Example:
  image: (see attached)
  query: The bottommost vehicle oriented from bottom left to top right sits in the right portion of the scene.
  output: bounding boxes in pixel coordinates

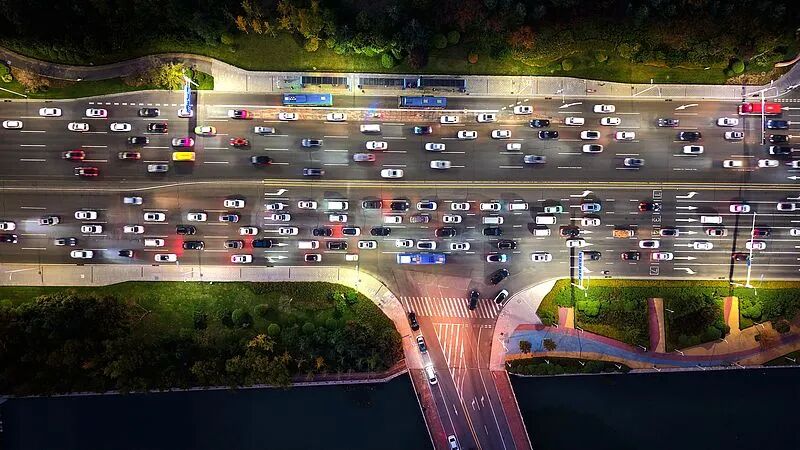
[492,288,509,307]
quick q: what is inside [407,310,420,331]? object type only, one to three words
vehicle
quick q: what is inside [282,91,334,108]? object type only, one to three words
vehicle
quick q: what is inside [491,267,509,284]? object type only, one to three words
car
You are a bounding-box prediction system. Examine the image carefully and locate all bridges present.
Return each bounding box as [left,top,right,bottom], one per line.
[409,370,534,450]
